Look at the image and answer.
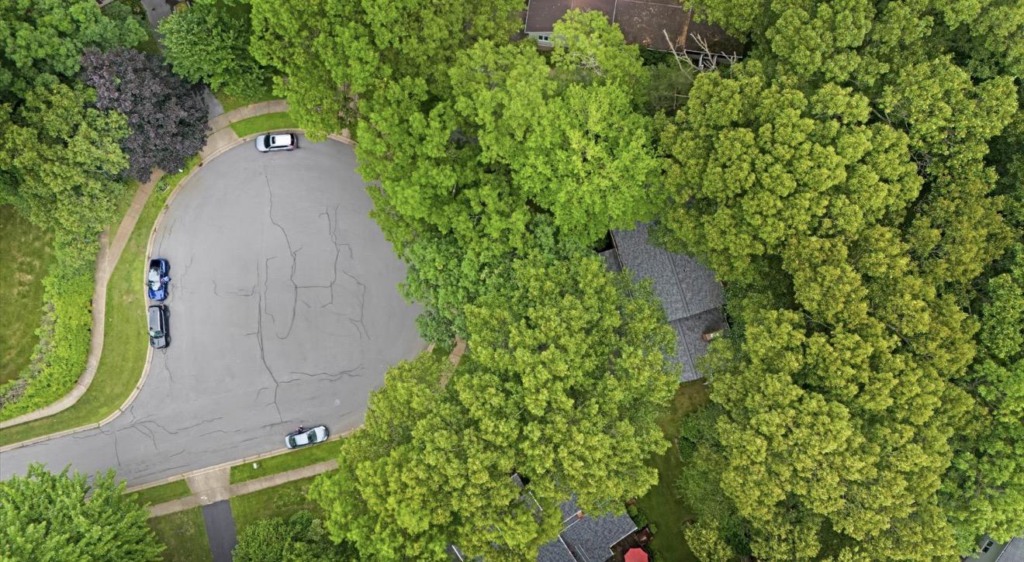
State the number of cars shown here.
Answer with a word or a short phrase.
4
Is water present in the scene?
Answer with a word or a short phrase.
No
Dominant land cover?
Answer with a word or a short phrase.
trees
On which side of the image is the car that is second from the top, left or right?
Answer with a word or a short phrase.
left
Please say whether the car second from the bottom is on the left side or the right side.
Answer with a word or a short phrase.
left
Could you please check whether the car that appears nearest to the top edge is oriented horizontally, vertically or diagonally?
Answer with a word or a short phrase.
horizontally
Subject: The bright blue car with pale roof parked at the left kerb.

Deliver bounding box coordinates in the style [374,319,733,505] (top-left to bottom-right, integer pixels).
[145,258,168,300]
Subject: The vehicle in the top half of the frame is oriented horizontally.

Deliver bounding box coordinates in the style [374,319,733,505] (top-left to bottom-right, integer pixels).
[254,131,296,152]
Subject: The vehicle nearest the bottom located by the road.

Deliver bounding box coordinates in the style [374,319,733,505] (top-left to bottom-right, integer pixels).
[283,426,328,450]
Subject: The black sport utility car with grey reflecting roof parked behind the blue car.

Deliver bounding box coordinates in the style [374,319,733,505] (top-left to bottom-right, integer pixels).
[146,305,170,348]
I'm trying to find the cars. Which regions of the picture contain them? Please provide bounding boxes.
[283,426,328,450]
[146,305,170,348]
[254,131,296,152]
[145,258,168,300]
